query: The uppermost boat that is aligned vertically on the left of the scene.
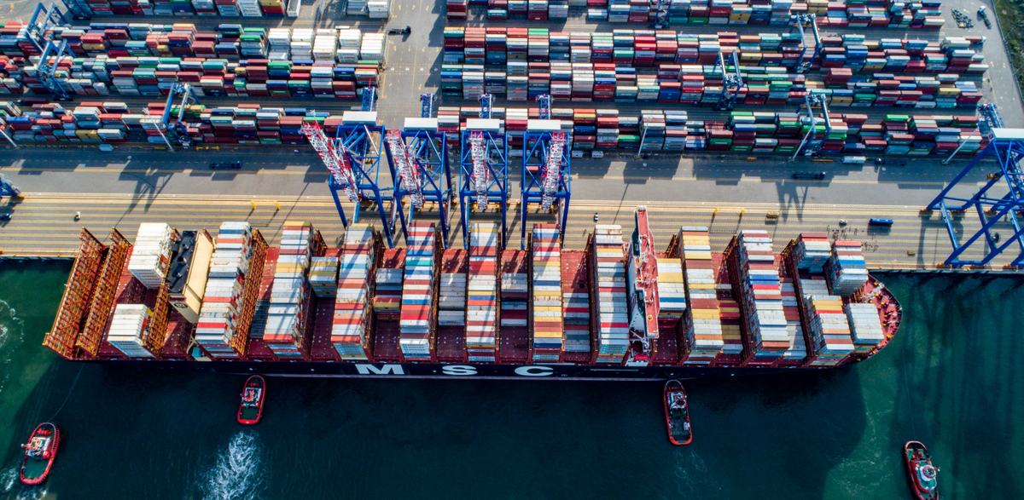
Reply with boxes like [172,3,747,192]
[236,375,266,427]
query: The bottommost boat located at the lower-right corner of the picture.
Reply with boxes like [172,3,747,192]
[902,441,945,500]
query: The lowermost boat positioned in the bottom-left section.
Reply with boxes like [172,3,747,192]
[18,421,62,485]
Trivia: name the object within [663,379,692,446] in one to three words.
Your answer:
boat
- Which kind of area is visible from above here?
port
